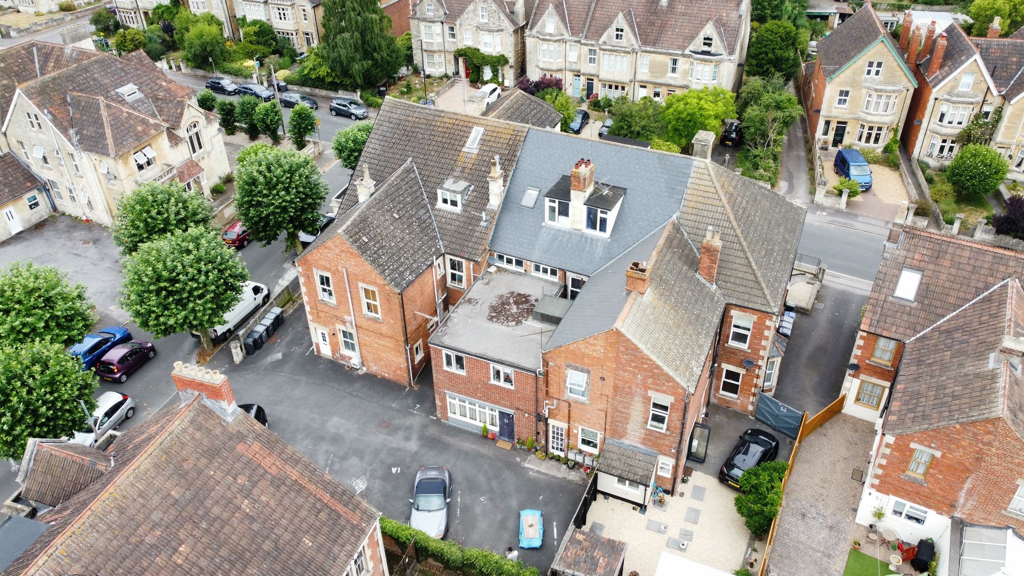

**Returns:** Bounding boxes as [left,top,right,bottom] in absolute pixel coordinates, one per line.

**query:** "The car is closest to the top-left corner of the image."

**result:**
[204,75,239,95]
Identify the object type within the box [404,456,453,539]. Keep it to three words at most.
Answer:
car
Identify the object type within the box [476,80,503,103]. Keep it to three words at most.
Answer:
car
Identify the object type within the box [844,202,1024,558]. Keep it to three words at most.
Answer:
house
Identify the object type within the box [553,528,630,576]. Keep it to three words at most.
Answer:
shed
